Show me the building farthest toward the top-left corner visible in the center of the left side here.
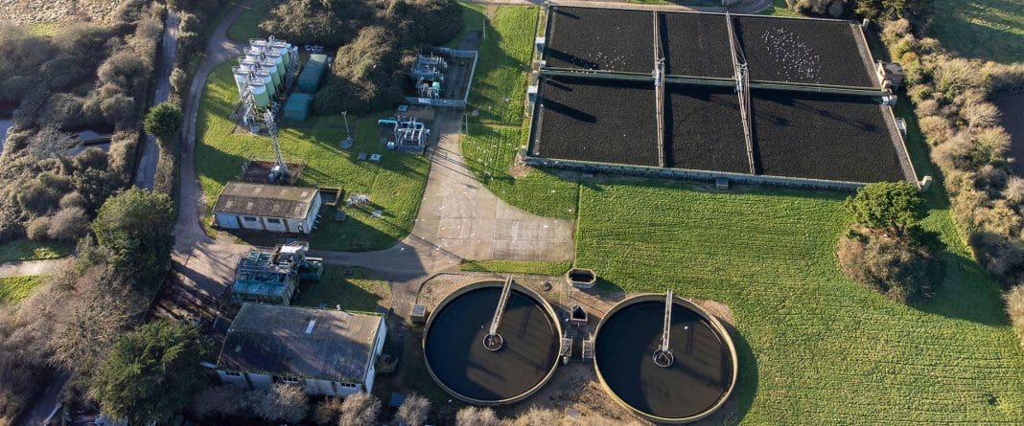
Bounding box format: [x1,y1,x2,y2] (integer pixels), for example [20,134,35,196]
[210,181,321,235]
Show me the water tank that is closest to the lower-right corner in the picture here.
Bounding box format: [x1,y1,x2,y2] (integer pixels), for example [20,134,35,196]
[593,287,739,426]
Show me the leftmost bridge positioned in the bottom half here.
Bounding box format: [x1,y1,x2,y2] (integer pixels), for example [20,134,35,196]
[489,275,514,338]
